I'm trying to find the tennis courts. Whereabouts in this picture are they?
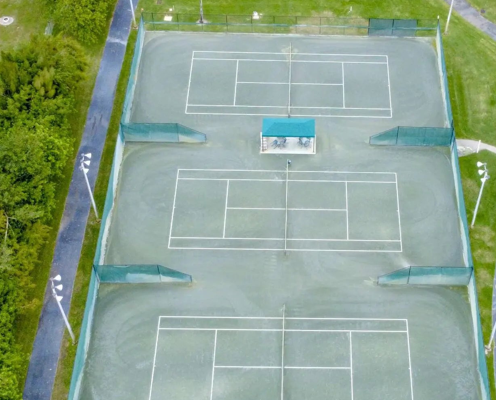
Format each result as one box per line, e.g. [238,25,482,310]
[128,30,447,145]
[78,280,482,400]
[103,140,464,284]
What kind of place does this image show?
sports ground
